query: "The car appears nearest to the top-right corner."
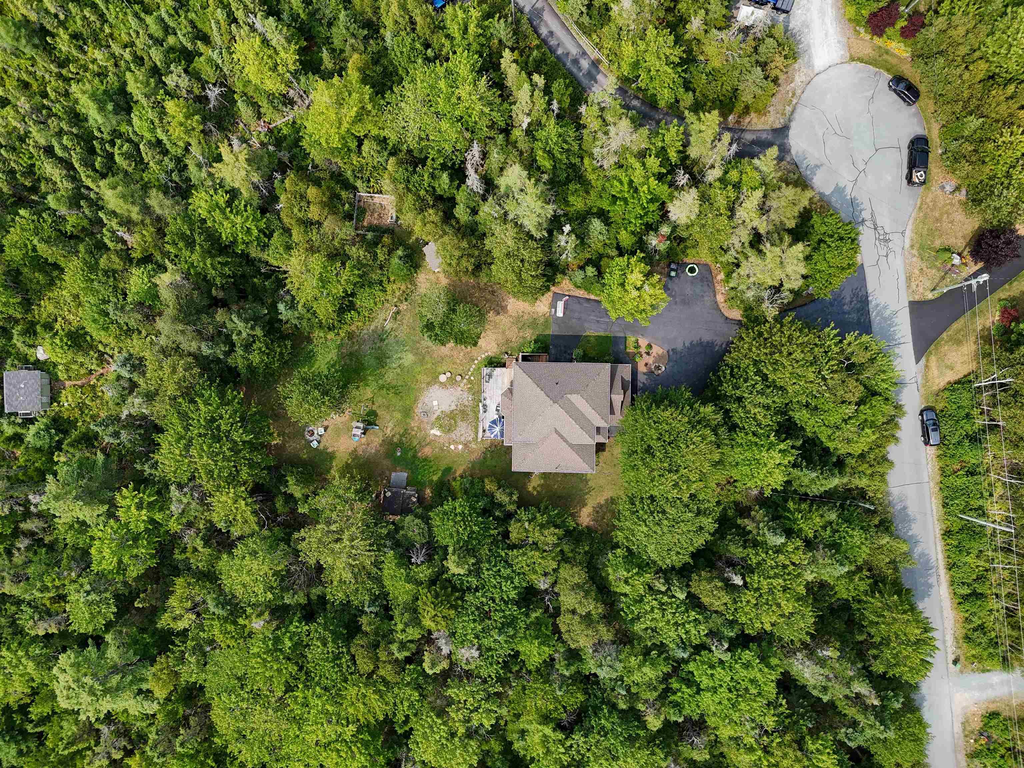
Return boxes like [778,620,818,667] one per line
[888,70,928,106]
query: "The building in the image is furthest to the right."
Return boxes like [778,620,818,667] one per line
[500,362,631,473]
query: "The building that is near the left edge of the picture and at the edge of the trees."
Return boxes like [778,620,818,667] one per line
[3,365,67,419]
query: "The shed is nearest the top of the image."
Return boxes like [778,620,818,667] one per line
[424,242,449,274]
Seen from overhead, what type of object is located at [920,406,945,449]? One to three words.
car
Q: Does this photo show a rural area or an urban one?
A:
rural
